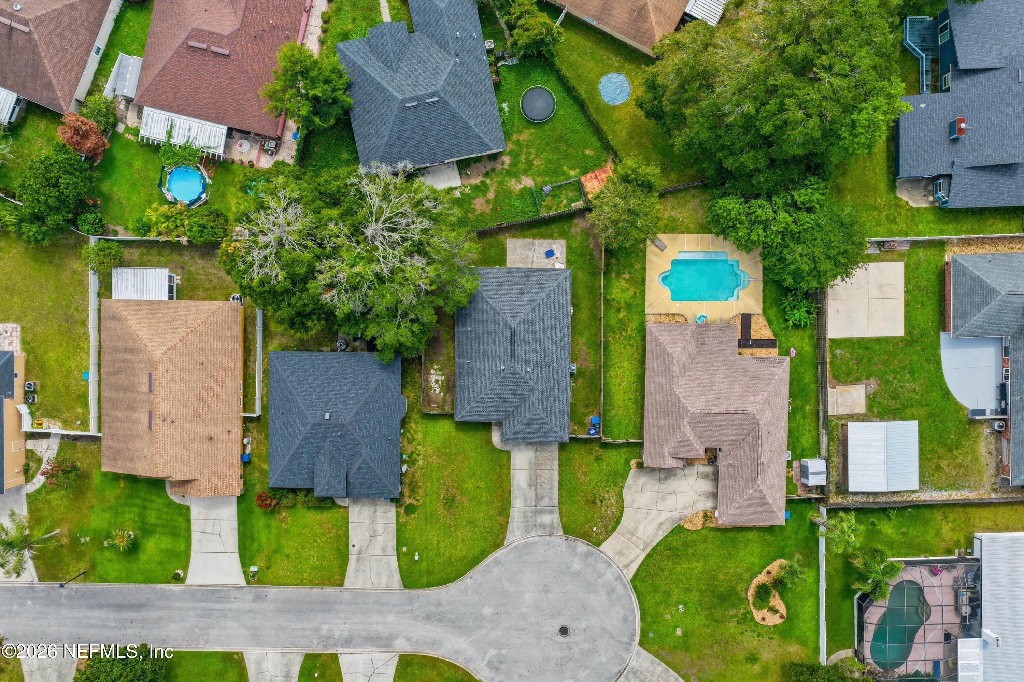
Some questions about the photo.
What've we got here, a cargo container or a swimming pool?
swimming pool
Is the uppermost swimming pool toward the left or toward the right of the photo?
left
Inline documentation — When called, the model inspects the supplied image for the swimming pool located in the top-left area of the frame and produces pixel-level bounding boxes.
[159,157,211,207]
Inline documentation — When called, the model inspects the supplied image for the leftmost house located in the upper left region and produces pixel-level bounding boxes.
[0,0,126,115]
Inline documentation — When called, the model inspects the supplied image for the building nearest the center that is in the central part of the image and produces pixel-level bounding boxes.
[454,268,571,444]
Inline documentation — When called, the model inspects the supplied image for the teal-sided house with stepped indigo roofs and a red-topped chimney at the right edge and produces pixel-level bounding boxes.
[891,0,1024,208]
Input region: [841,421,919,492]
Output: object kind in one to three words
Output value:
shed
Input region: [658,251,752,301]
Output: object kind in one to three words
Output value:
swimming pool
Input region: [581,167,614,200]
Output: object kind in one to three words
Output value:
shed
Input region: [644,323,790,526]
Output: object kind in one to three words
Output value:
house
